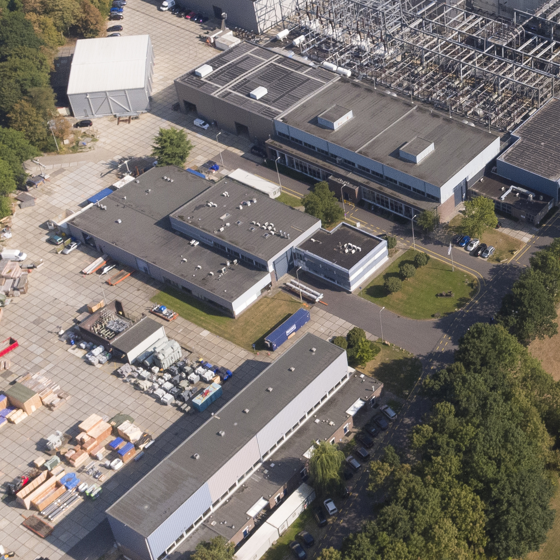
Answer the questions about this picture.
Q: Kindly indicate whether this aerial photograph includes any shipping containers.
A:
Yes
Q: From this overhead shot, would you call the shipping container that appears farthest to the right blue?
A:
Yes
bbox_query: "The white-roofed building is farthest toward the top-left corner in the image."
[66,35,155,119]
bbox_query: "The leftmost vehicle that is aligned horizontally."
[0,248,26,261]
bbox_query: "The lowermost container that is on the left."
[191,382,224,414]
